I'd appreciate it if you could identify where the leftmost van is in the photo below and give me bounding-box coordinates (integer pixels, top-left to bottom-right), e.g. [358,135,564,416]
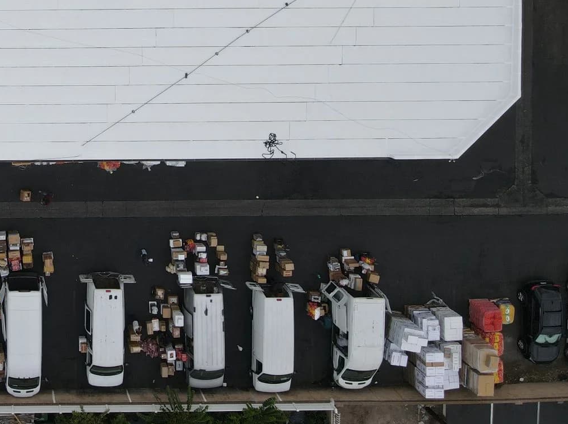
[0,275,46,398]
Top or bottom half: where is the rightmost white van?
bottom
